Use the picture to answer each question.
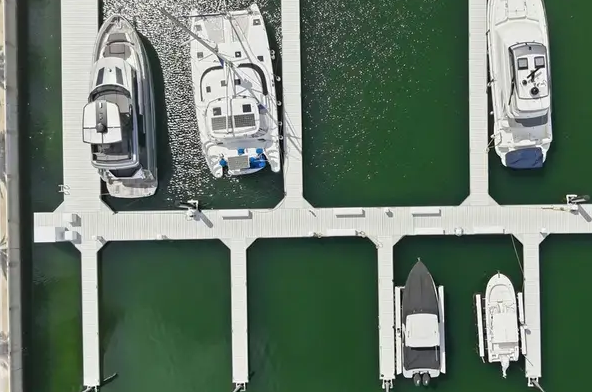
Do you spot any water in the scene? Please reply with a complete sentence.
Yes, some water is visible.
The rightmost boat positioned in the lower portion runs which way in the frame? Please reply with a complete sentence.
What the image shows is the rightmost boat positioned in the lower portion lying up and down.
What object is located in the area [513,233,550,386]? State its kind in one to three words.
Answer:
pier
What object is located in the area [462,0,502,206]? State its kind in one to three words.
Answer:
pier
